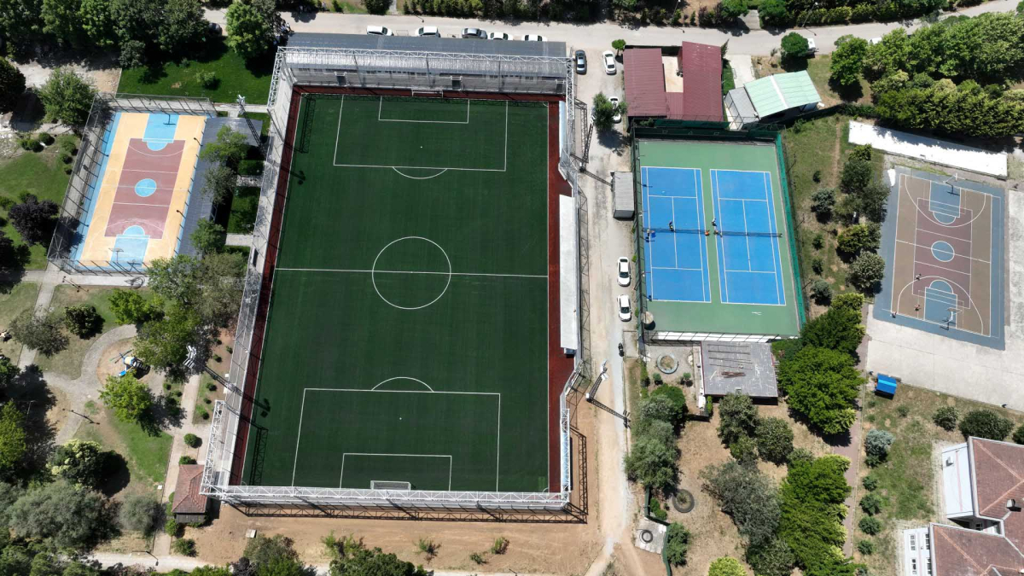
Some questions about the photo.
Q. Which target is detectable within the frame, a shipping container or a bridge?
shipping container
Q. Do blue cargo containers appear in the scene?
No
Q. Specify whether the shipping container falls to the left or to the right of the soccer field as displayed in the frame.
to the right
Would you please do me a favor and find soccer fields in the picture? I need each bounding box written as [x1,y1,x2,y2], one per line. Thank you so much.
[228,85,575,495]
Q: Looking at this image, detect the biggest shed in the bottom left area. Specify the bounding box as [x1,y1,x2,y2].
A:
[171,465,212,523]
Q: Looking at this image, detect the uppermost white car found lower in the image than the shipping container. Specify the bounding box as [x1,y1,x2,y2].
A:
[617,259,631,286]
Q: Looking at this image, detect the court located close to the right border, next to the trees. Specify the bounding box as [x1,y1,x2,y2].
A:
[873,166,1005,351]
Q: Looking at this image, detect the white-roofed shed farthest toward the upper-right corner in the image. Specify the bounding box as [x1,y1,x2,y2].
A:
[740,68,821,123]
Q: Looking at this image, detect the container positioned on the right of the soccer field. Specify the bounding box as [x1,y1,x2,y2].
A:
[610,171,635,218]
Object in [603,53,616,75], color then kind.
white vehicle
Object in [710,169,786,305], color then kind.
blue tennis court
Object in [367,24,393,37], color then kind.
white vehicle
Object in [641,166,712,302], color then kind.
blue tennis court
